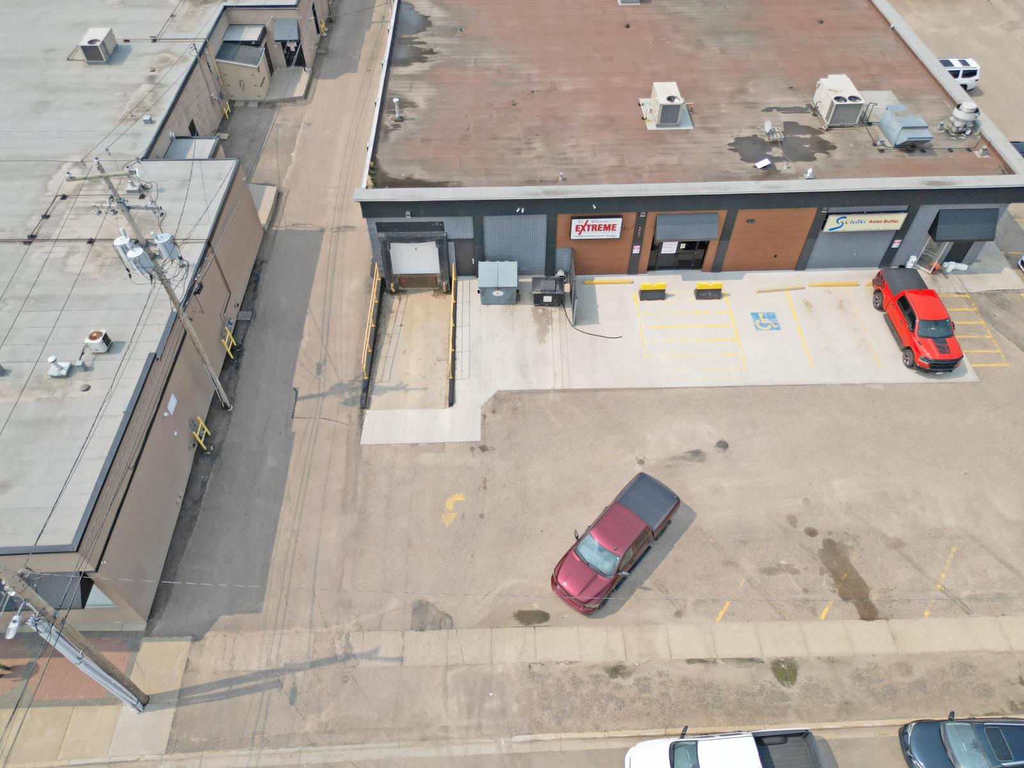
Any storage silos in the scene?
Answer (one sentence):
No, this view has no storage silo in it.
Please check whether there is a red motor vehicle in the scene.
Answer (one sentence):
Yes, there's a red motor vehicle down there.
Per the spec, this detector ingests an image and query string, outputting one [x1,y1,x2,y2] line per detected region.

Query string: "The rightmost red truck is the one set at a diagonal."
[872,272,967,378]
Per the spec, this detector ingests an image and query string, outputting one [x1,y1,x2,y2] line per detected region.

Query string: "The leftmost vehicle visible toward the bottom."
[547,474,681,620]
